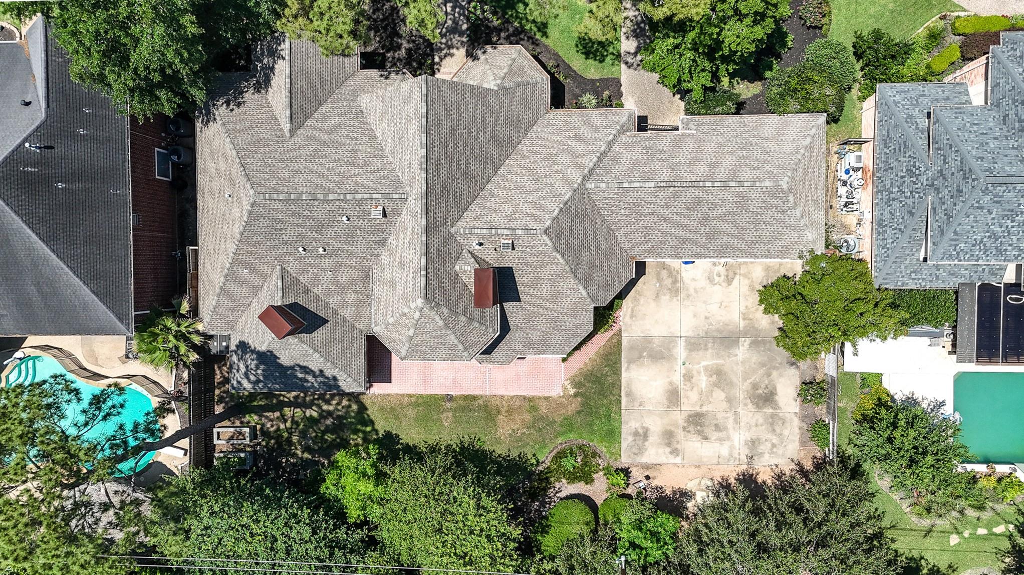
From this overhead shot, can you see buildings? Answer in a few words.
Yes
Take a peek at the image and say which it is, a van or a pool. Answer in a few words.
pool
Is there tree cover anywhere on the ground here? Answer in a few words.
Yes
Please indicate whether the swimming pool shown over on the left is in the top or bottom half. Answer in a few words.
bottom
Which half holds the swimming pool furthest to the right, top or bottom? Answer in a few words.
bottom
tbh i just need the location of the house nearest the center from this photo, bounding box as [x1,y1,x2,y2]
[193,20,829,394]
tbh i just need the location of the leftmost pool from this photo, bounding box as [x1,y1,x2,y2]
[0,349,164,484]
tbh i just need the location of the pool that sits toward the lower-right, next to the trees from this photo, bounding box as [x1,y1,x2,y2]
[955,372,1024,477]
